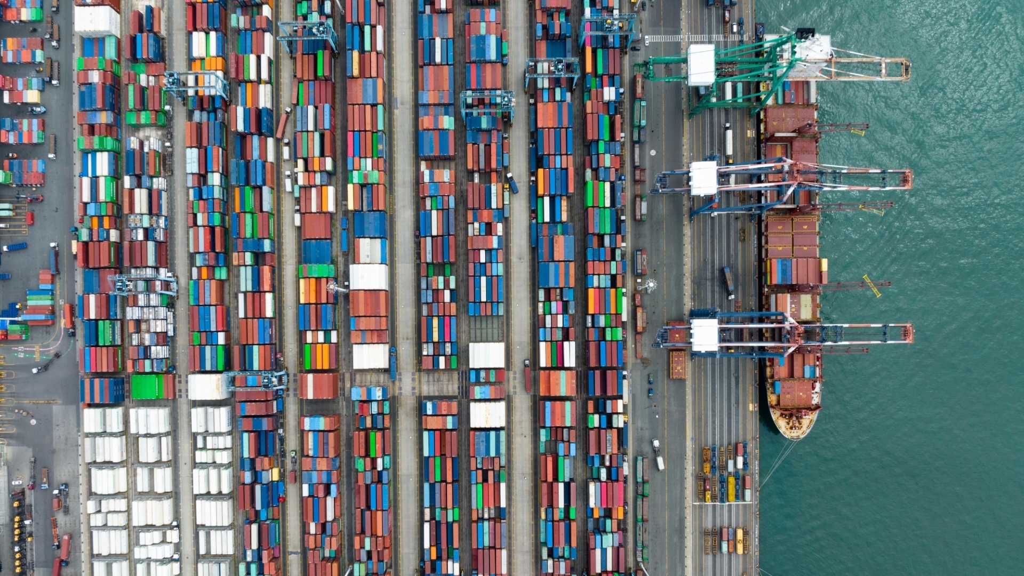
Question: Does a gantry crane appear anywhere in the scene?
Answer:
Yes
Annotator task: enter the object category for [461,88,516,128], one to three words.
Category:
container crane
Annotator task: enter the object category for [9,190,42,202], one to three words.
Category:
vehicle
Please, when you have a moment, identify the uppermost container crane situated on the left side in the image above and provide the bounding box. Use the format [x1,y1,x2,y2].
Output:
[277,18,338,61]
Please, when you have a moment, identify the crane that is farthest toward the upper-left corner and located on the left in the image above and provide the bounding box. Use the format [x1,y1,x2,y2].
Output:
[162,67,230,107]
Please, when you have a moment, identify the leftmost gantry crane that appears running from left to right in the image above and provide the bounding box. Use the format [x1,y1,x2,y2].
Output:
[109,270,178,302]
